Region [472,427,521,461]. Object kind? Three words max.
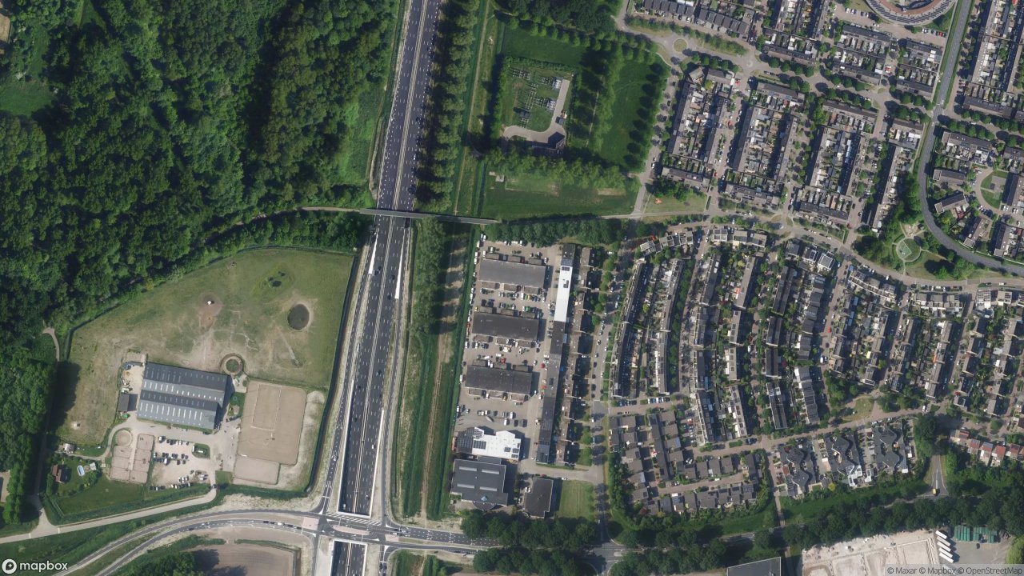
building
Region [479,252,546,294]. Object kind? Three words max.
building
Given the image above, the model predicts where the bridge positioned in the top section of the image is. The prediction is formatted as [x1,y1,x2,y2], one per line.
[352,206,504,223]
